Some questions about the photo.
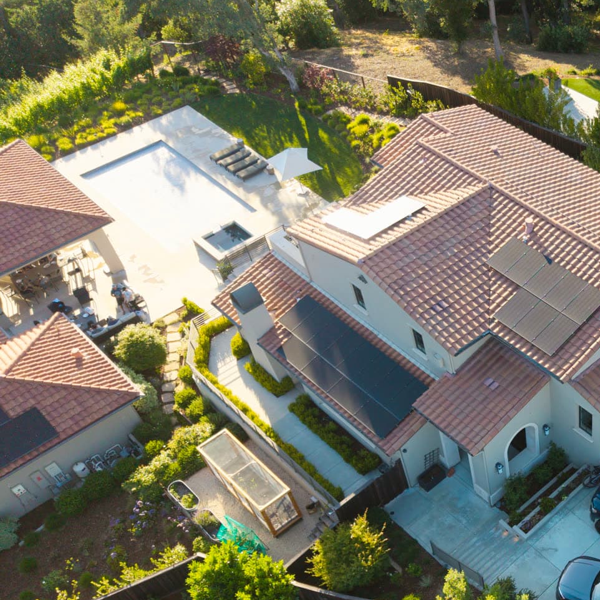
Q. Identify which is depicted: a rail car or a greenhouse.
greenhouse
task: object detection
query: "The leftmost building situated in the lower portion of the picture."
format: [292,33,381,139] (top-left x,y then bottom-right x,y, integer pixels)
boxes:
[0,311,145,515]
